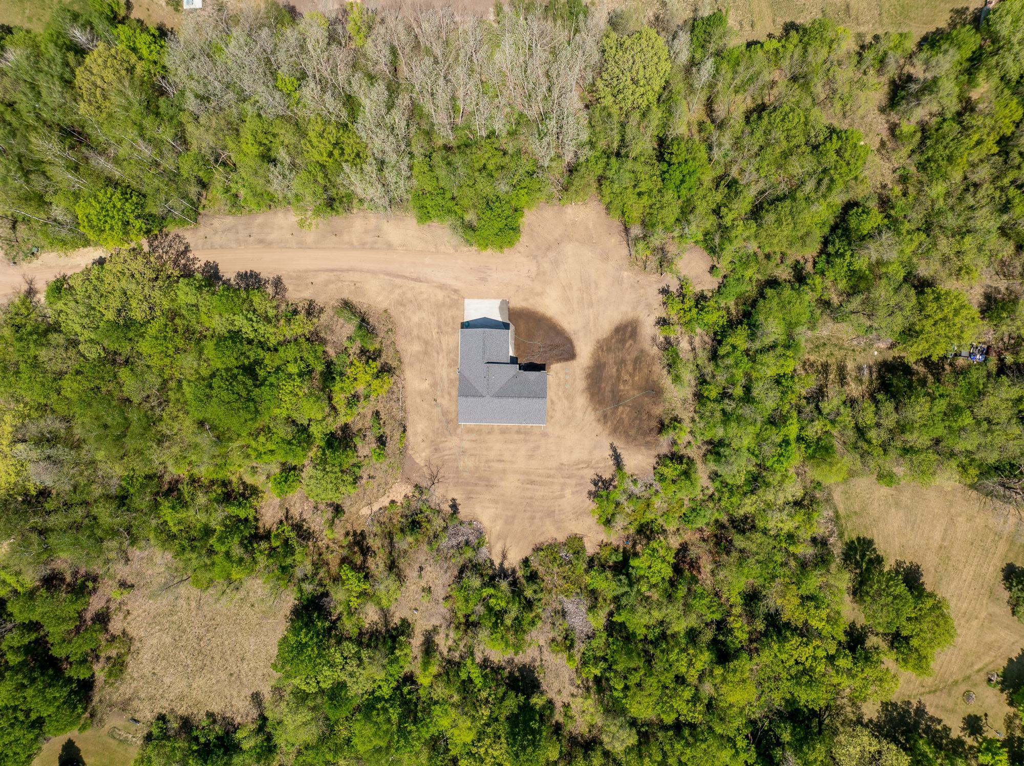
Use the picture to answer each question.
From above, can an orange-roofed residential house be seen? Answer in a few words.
No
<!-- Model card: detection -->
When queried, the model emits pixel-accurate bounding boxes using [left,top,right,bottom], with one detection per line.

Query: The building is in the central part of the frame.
[458,328,548,428]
